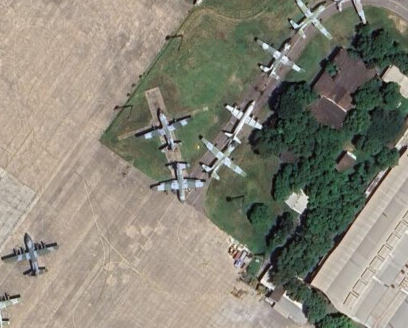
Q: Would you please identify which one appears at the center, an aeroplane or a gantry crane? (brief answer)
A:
aeroplane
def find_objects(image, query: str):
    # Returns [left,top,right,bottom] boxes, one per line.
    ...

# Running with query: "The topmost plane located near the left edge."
[4,237,56,282]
